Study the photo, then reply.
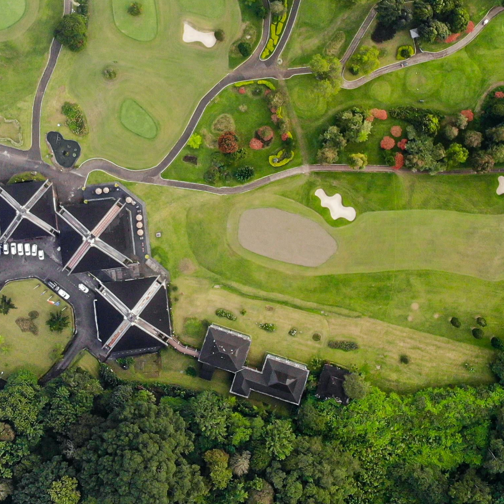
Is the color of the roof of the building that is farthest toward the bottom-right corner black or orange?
black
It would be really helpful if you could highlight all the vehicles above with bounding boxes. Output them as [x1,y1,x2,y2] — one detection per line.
[11,243,17,256]
[24,243,30,257]
[58,288,71,300]
[32,244,38,257]
[3,242,10,256]
[47,280,61,292]
[38,249,45,261]
[482,19,491,25]
[17,243,24,256]
[77,282,89,294]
